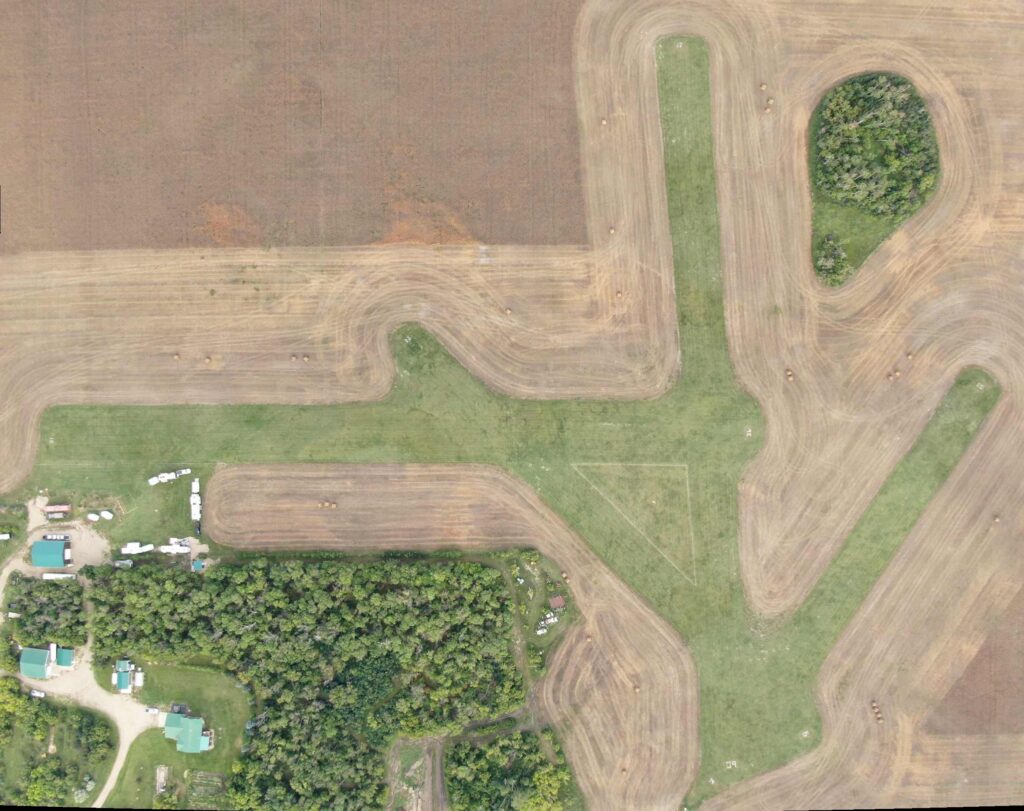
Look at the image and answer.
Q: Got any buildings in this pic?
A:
Yes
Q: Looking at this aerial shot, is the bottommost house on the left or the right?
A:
left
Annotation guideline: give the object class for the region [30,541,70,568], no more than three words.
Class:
building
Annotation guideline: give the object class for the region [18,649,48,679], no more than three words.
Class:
barn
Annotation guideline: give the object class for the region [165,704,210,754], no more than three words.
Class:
house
